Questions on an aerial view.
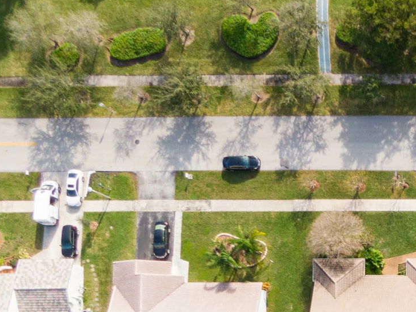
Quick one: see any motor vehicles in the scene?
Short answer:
Yes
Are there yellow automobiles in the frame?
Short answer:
No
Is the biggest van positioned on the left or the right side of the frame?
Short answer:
left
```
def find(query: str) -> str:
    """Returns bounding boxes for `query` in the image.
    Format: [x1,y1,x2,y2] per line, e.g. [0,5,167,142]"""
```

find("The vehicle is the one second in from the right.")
[152,221,171,259]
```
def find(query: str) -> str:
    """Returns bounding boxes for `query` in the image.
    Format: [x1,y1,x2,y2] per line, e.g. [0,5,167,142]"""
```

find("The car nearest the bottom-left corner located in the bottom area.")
[59,224,79,257]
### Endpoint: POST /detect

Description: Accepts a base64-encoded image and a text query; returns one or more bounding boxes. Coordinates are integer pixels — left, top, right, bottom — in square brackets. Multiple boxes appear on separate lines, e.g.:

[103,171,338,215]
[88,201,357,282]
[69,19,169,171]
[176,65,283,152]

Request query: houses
[310,258,416,312]
[0,258,86,312]
[107,258,269,312]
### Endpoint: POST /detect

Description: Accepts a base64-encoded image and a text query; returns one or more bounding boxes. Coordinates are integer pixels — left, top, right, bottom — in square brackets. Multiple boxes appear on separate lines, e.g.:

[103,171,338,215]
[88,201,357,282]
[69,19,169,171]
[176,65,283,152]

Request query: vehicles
[65,169,86,207]
[152,221,171,259]
[29,181,61,227]
[222,153,261,171]
[59,224,79,257]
